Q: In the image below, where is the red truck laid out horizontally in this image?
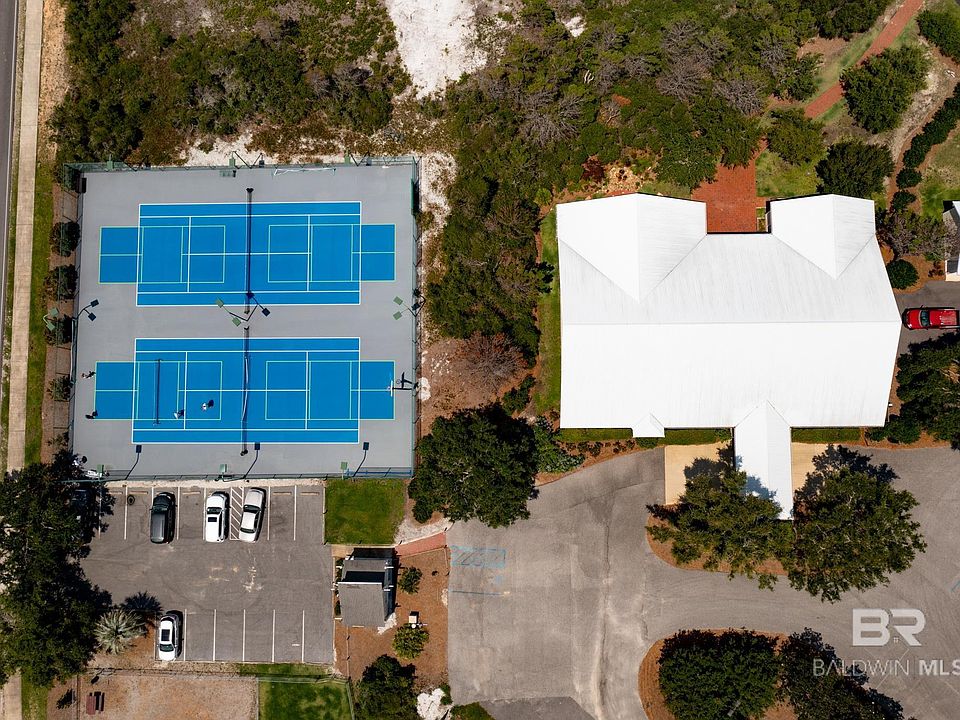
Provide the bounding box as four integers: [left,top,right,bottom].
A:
[899,308,959,330]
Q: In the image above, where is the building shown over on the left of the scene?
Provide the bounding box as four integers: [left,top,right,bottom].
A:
[331,557,398,631]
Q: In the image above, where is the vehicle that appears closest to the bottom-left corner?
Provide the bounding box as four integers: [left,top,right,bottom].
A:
[157,613,180,659]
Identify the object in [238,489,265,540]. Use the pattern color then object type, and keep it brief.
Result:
white car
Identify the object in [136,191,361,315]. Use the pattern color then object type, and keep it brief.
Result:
blue tennis court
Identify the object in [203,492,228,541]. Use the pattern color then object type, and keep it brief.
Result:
white car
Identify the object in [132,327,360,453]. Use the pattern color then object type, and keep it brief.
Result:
blue tennis court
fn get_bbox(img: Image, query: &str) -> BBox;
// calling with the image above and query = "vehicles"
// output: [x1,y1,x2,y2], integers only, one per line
[238,489,265,540]
[150,493,173,542]
[899,308,959,330]
[203,492,228,541]
[157,613,180,659]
